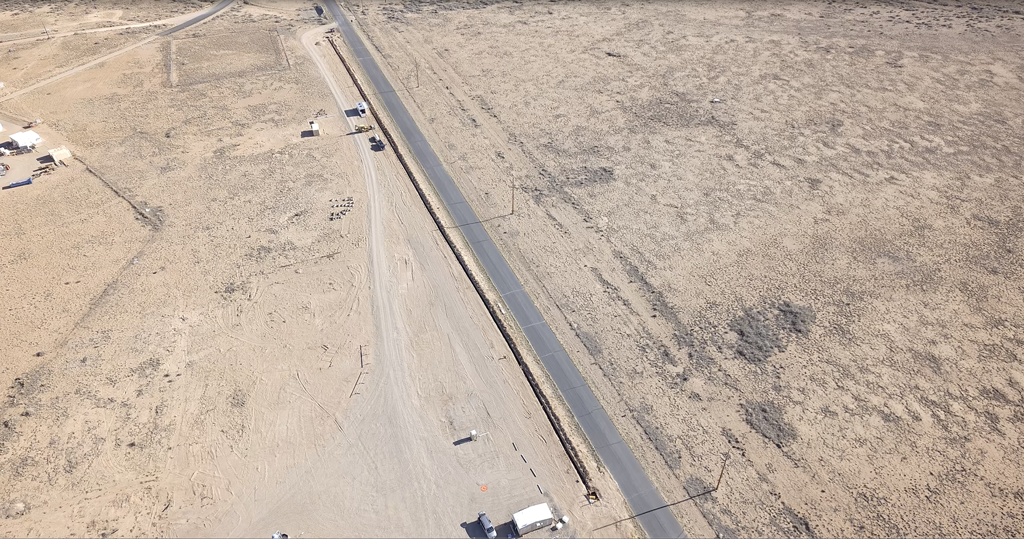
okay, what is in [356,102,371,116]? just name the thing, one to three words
camper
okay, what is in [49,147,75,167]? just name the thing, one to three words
shed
